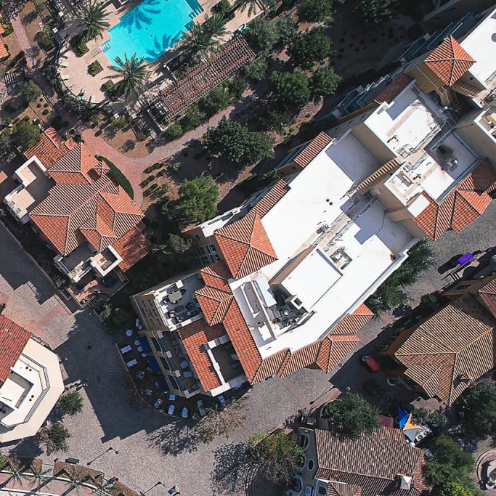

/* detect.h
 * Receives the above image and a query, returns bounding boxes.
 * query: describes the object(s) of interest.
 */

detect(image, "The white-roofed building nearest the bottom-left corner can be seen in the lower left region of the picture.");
[0,338,65,443]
